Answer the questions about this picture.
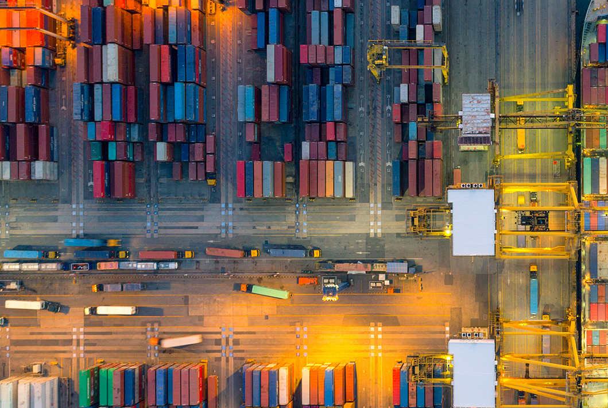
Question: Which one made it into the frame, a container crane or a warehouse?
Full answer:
The one in the frame is a container crane.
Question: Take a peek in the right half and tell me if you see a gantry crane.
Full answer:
Yes, a gantry crane shows up in the right half.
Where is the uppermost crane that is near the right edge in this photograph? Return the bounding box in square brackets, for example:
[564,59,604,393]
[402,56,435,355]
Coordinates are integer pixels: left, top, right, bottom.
[415,79,608,175]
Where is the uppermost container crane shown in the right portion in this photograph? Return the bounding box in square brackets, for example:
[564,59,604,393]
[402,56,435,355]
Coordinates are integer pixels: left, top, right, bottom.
[366,41,448,86]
